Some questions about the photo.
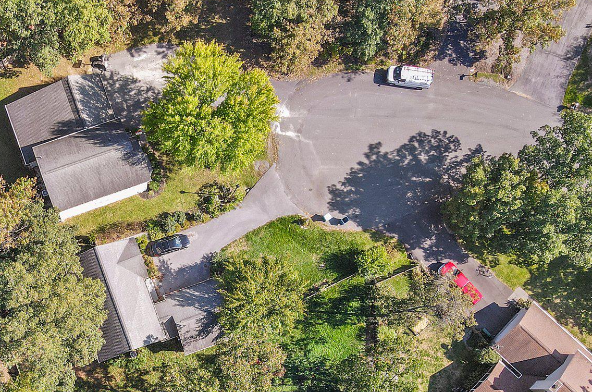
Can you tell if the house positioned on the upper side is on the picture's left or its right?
left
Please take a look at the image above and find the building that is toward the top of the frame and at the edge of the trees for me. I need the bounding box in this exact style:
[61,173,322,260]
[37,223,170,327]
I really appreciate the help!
[5,72,147,222]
